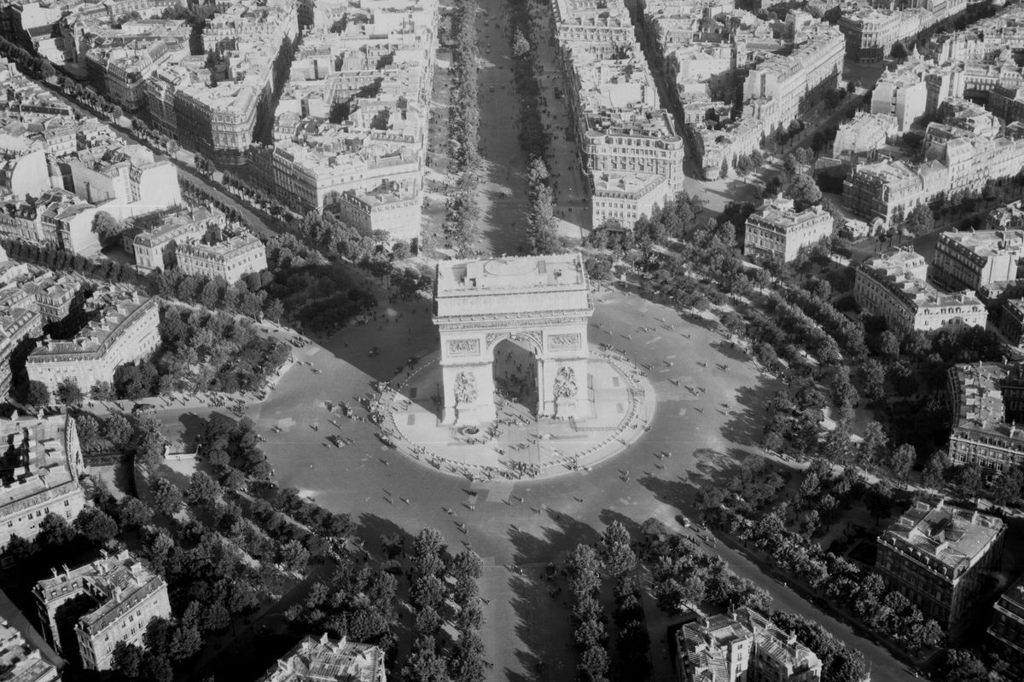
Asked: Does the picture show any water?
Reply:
No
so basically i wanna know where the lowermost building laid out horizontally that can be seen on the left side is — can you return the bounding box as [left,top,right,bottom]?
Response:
[265,630,390,682]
